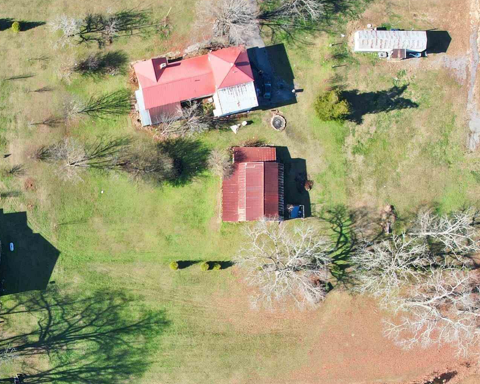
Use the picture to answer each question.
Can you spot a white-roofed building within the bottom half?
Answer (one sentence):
No, there's no white-roofed building to be seen within the bottom half.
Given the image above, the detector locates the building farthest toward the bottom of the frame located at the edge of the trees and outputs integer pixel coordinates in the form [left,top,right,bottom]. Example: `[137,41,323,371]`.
[222,162,284,222]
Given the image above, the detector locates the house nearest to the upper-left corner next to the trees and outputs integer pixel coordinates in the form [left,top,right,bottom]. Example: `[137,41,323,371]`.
[133,45,258,126]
